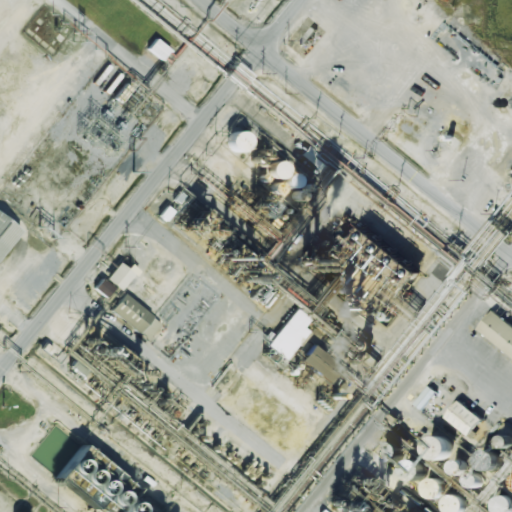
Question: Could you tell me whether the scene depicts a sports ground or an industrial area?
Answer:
industrial area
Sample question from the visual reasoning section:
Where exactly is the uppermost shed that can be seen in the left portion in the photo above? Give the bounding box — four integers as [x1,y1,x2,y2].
[146,36,176,62]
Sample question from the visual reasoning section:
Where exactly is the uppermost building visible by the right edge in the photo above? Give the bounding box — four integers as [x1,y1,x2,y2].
[468,308,512,364]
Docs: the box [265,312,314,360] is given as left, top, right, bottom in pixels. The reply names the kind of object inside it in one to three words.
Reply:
building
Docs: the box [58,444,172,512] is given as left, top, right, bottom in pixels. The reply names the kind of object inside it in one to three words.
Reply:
cooling tower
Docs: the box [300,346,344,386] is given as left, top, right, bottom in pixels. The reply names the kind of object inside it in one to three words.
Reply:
building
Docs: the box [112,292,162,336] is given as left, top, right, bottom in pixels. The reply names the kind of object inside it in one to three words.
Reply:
shed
